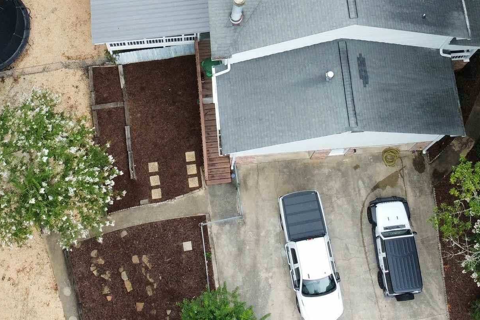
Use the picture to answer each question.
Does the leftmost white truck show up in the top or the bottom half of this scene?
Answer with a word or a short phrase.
bottom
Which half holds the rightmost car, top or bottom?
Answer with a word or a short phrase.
bottom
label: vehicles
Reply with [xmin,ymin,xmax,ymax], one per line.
[274,189,346,320]
[368,195,422,296]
